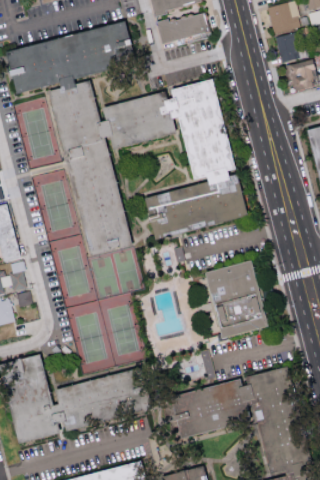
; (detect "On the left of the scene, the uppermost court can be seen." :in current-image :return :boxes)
[16,98,63,168]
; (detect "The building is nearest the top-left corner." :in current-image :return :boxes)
[8,21,136,94]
